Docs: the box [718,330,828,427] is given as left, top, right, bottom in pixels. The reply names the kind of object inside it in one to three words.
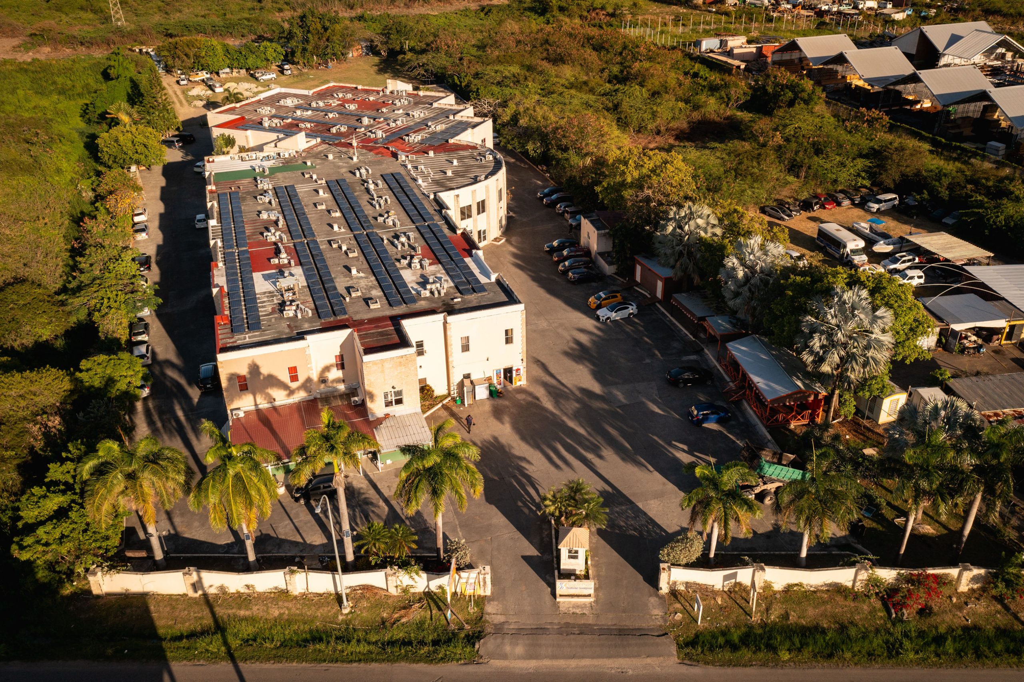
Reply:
building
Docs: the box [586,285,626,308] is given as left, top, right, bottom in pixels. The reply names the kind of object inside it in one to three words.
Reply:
car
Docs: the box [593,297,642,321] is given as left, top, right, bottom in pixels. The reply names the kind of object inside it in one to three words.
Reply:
car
